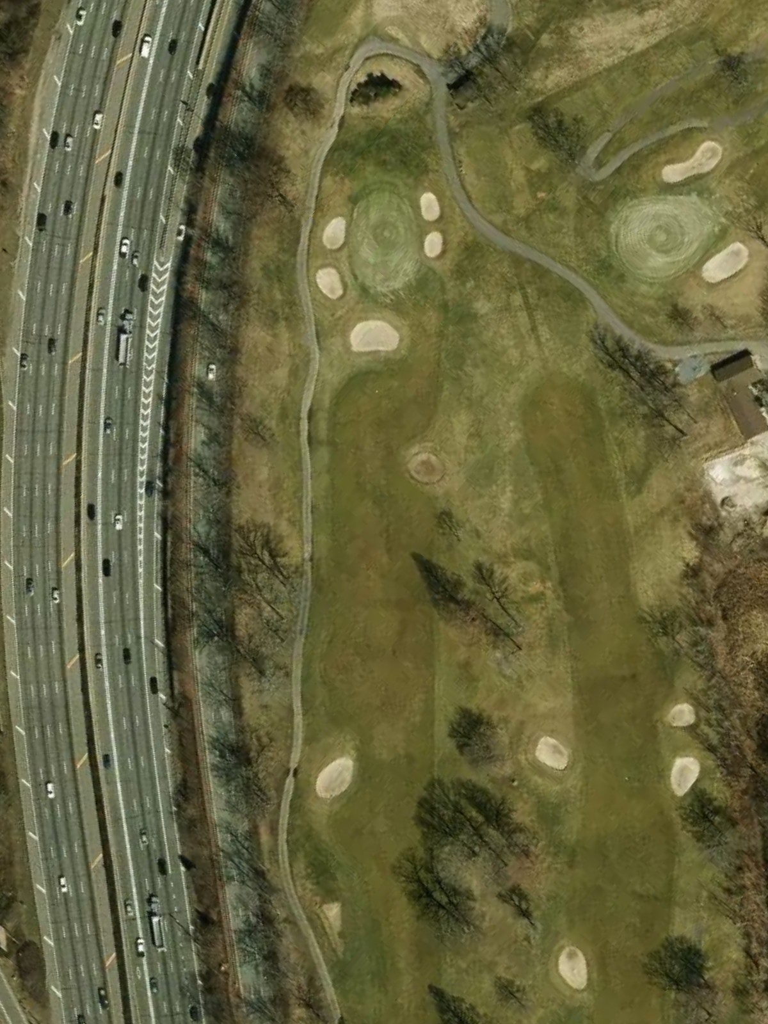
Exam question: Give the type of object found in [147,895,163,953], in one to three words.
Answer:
vehicle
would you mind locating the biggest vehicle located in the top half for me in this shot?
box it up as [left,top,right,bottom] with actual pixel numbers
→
[119,310,133,368]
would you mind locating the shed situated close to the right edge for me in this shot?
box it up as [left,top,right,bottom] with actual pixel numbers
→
[711,347,754,382]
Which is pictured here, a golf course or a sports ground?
golf course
